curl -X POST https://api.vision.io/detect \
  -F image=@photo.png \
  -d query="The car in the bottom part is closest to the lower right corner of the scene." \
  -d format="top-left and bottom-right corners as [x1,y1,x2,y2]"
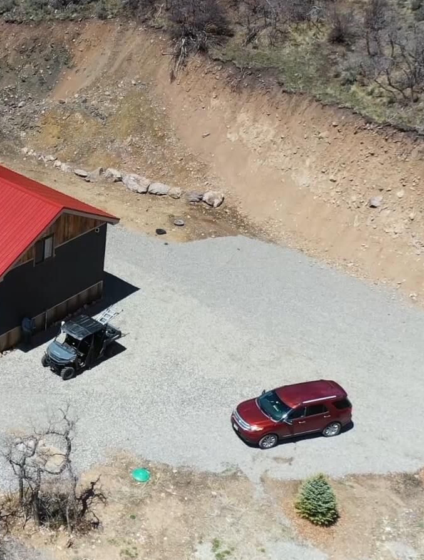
[226,377,356,451]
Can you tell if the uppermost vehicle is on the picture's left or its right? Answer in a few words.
left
